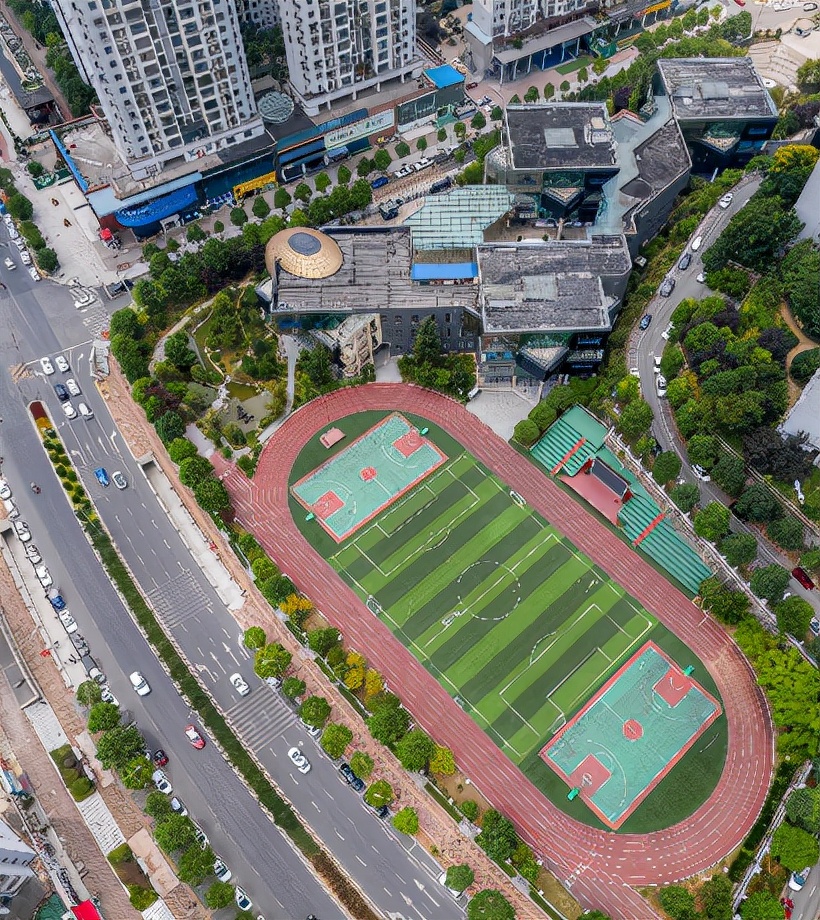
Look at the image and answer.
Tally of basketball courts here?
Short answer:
2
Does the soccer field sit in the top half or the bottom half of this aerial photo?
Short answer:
bottom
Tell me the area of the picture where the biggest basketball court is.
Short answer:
bottom right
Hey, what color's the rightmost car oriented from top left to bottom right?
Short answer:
red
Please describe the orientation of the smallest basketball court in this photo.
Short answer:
on a diagonal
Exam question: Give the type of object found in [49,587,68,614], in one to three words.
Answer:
vehicle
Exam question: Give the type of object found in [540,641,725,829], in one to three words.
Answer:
basketball court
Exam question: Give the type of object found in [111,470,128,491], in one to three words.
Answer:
car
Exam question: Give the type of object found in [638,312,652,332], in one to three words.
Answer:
car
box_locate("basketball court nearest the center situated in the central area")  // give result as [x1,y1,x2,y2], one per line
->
[290,413,448,543]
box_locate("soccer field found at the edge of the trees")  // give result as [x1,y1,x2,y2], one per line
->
[327,451,659,762]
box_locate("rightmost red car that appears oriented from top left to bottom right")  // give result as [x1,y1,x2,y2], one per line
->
[788,565,816,591]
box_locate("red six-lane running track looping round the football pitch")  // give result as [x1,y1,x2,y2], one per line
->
[211,378,779,920]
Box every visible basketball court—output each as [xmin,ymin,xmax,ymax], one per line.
[540,641,725,829]
[290,413,448,543]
